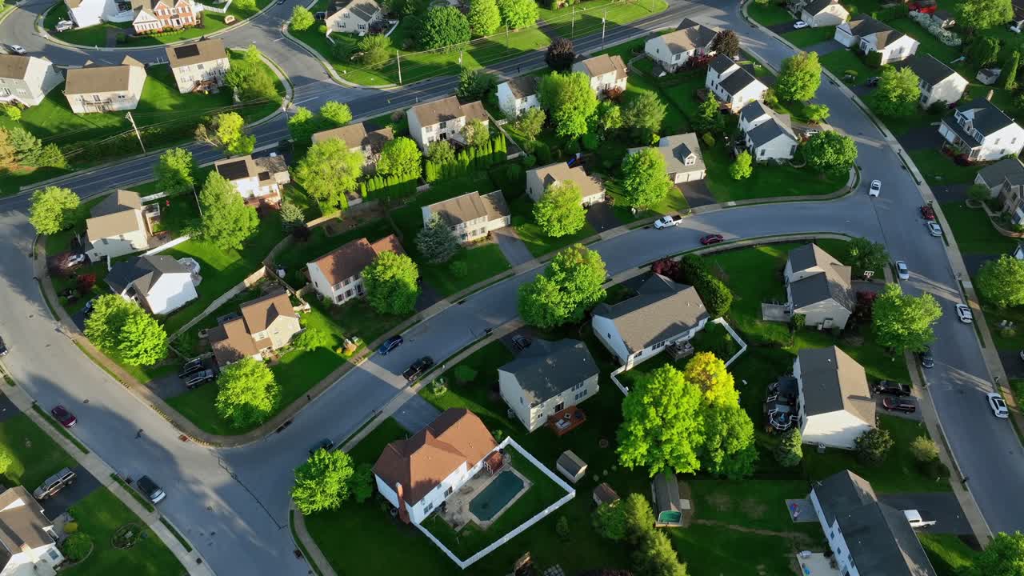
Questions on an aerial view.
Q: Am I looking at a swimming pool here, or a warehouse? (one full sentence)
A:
There is a swimming pool in the scene.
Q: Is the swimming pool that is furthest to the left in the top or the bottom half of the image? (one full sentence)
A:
The swimming pool that is furthest to the left sits in the bottom half of the picture.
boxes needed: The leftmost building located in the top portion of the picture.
[0,52,59,102]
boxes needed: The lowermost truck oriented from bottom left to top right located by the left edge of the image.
[32,462,80,499]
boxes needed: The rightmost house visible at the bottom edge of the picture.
[806,463,940,576]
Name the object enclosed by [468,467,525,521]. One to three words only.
swimming pool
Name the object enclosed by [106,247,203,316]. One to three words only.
house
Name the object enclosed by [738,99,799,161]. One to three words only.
house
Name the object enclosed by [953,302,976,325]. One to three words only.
car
